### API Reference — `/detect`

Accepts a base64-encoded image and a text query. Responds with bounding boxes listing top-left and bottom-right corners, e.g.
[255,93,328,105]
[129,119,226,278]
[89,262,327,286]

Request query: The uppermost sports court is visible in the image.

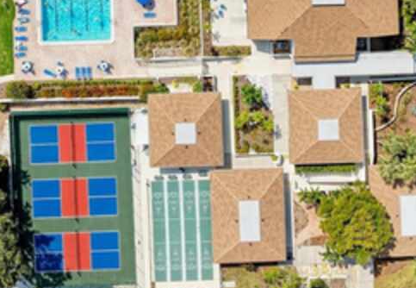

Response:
[30,121,116,167]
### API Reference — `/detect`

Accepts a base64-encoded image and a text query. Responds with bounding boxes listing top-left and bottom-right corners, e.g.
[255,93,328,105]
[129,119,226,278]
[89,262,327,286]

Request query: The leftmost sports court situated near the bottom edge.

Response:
[34,230,121,276]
